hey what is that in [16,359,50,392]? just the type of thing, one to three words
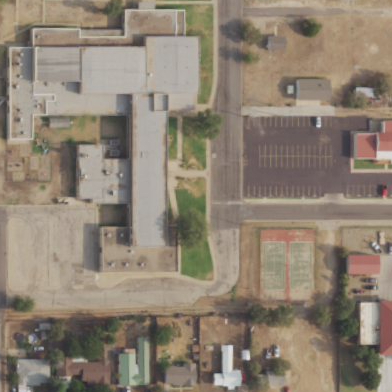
house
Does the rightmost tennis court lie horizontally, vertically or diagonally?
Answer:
vertically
